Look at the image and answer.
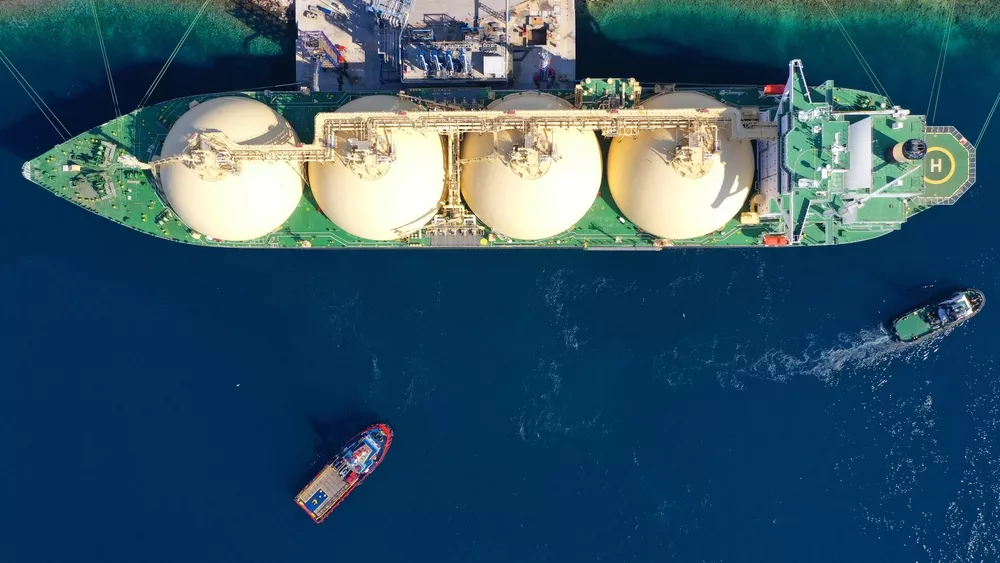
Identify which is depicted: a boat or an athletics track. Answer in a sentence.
This aerial view contains a boat.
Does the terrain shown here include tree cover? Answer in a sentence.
No, no tree cover is visible.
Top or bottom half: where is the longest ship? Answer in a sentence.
The longest ship sits in the top half of the picture.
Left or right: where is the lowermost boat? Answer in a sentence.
It is on the left.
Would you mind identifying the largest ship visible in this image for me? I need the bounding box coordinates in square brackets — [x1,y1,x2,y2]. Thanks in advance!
[17,58,977,250]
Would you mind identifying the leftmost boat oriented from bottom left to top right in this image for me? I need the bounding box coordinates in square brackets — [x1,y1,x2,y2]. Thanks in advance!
[295,422,394,522]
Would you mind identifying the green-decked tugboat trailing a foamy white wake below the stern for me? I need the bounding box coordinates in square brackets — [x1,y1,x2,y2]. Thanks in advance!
[893,293,989,345]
